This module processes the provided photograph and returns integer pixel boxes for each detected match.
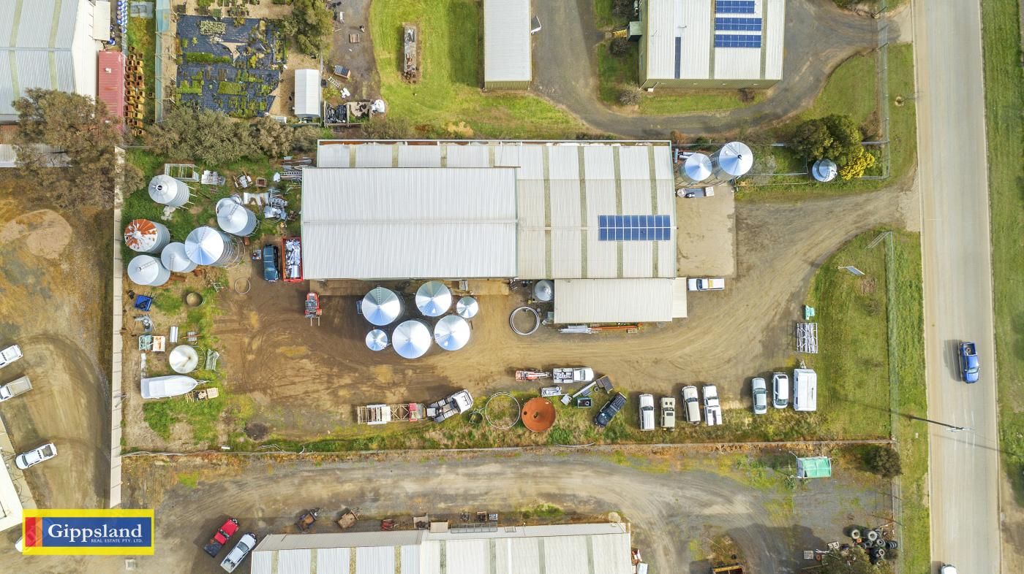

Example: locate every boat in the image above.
[137,378,208,400]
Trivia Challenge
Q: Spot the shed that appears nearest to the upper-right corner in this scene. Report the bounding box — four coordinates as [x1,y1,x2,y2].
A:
[641,0,785,89]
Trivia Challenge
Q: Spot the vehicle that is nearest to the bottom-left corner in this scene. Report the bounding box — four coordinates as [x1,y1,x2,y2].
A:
[9,524,45,557]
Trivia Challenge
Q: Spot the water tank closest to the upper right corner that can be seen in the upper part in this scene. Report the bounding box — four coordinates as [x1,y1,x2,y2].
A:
[805,159,835,185]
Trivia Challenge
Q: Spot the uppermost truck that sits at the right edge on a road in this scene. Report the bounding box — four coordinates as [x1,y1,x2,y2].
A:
[957,342,979,384]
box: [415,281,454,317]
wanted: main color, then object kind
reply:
white silo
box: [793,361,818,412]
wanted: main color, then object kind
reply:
white camper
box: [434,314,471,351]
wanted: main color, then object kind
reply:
white silo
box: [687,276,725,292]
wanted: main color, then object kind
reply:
white vehicle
